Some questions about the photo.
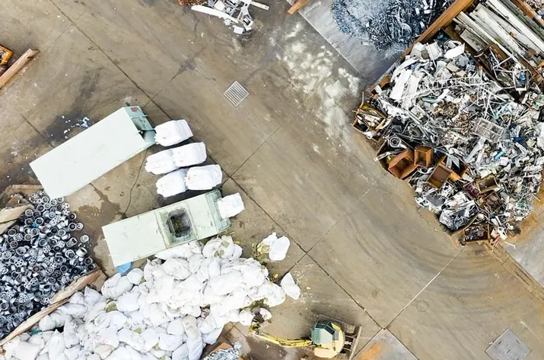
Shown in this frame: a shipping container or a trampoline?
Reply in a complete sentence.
Looking from above, you can make out a shipping container.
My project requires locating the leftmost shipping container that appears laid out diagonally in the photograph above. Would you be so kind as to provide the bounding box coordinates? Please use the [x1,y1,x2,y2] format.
[27,106,161,199]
